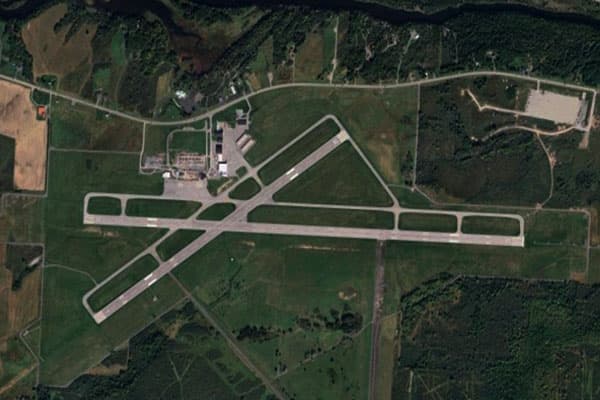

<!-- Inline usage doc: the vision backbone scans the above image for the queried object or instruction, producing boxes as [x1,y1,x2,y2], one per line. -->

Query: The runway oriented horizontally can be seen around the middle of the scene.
[84,215,524,247]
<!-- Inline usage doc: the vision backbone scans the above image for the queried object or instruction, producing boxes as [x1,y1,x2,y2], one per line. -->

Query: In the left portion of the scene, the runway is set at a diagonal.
[94,131,350,323]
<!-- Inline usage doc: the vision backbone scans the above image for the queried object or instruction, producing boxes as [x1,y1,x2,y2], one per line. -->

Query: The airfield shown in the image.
[83,115,525,323]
